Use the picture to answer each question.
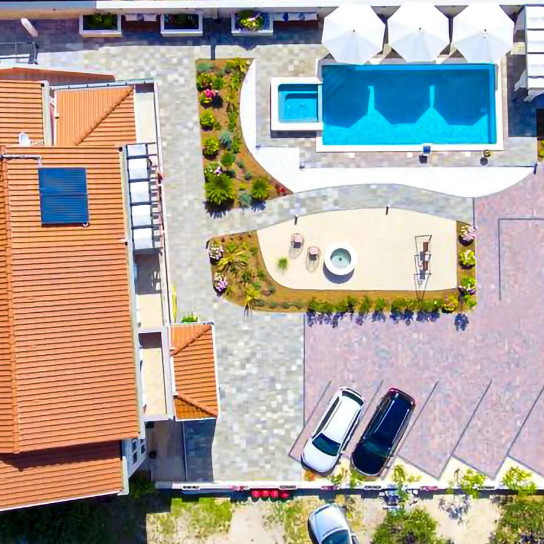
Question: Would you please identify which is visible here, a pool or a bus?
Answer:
pool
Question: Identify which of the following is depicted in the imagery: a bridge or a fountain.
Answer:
fountain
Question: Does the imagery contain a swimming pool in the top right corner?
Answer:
Yes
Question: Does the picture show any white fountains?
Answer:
Yes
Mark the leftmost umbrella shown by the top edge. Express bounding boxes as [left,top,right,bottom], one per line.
[322,6,384,67]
